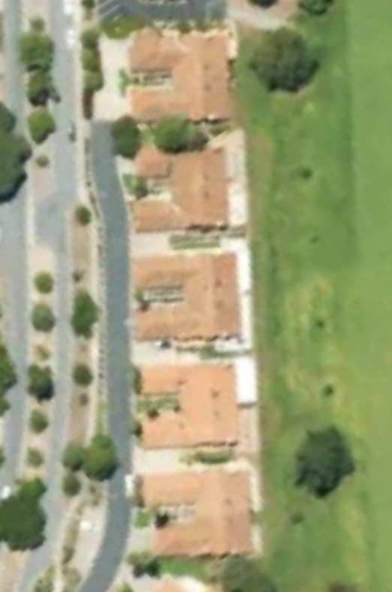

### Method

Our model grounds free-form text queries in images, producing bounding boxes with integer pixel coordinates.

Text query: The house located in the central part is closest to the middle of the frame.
[130,237,255,348]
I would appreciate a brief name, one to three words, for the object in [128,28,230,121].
house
